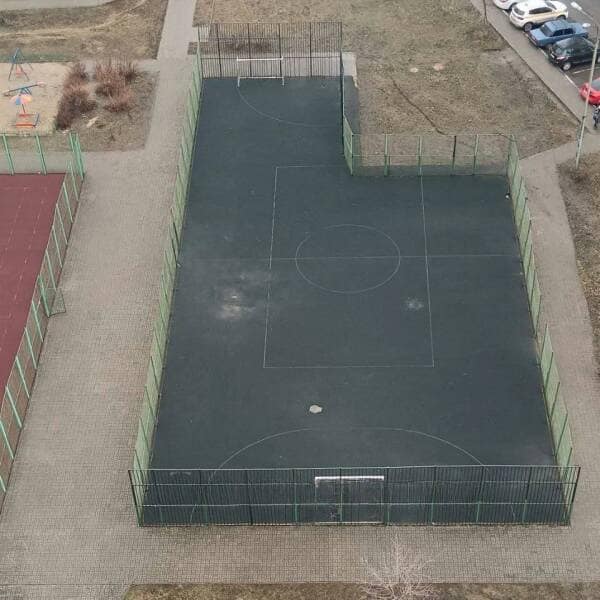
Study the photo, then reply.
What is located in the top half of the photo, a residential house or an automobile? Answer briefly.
automobile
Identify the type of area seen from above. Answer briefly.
sports ground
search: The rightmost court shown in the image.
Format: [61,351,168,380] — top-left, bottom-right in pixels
[136,77,571,526]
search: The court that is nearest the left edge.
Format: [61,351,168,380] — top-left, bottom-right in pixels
[0,172,84,508]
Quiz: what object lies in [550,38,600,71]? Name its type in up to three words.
car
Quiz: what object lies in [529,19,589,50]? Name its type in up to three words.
car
